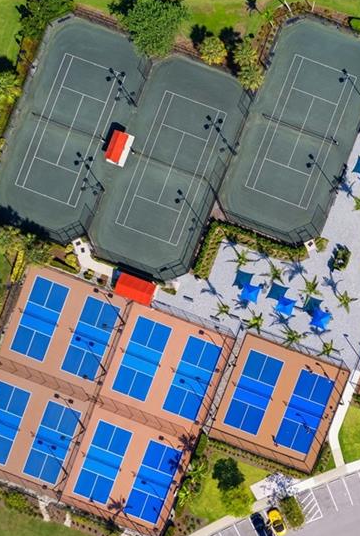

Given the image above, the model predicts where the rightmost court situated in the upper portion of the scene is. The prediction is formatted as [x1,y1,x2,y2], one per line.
[217,16,360,243]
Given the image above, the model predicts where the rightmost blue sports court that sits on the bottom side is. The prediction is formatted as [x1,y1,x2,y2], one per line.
[274,369,334,455]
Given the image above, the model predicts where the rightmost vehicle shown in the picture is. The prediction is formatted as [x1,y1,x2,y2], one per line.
[269,509,286,536]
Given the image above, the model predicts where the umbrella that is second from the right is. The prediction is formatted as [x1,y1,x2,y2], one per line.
[275,294,297,317]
